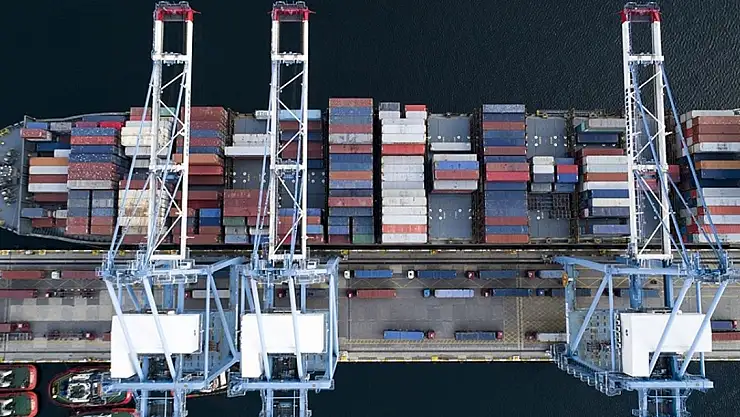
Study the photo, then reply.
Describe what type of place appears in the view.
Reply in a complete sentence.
The area seen from above is a port.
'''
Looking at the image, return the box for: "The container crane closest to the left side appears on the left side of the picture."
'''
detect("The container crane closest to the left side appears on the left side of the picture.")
[99,2,253,417]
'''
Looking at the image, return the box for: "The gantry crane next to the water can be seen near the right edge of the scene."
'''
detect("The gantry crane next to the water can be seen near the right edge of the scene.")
[546,2,735,417]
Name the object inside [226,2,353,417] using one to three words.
container crane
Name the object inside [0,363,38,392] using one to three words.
boat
